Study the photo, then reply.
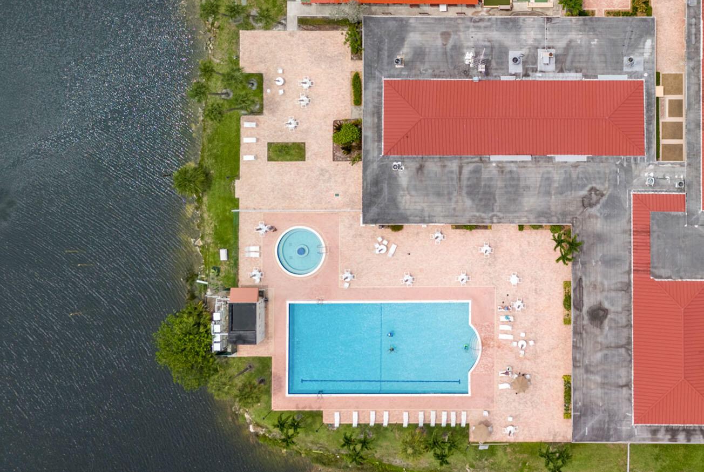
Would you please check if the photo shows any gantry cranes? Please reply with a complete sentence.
No, the photo shows no gantry crane.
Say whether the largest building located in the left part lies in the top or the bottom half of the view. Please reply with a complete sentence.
Seen from above, the largest building located in the left part lies in the bottom half of the view.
